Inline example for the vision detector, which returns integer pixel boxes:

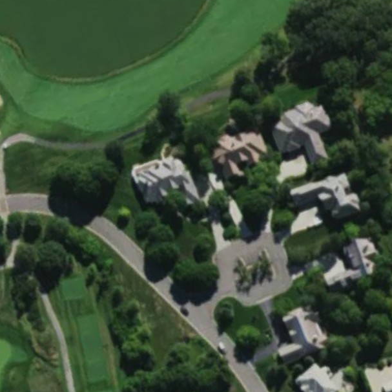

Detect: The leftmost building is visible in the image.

[126,154,201,207]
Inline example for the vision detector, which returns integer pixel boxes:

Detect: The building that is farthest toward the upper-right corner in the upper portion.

[271,100,332,160]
